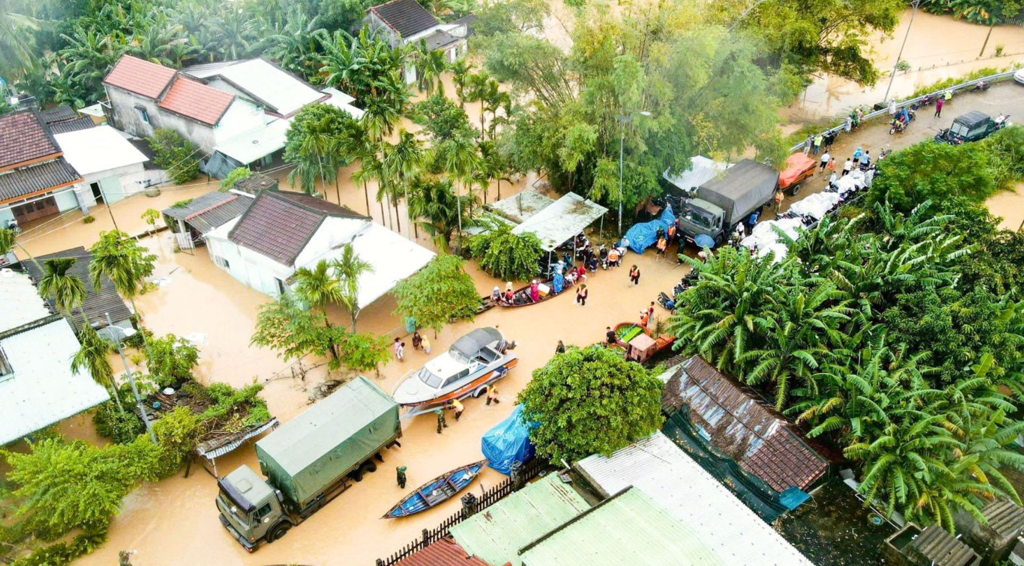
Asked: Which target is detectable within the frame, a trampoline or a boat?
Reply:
boat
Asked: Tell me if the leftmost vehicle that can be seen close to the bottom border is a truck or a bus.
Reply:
truck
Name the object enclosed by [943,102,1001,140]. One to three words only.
car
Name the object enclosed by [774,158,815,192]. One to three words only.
trailer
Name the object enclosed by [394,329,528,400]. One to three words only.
boat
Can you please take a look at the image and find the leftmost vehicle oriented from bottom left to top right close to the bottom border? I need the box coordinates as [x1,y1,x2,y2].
[214,379,407,563]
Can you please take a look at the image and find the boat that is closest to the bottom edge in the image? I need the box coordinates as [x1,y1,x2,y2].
[378,452,488,520]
